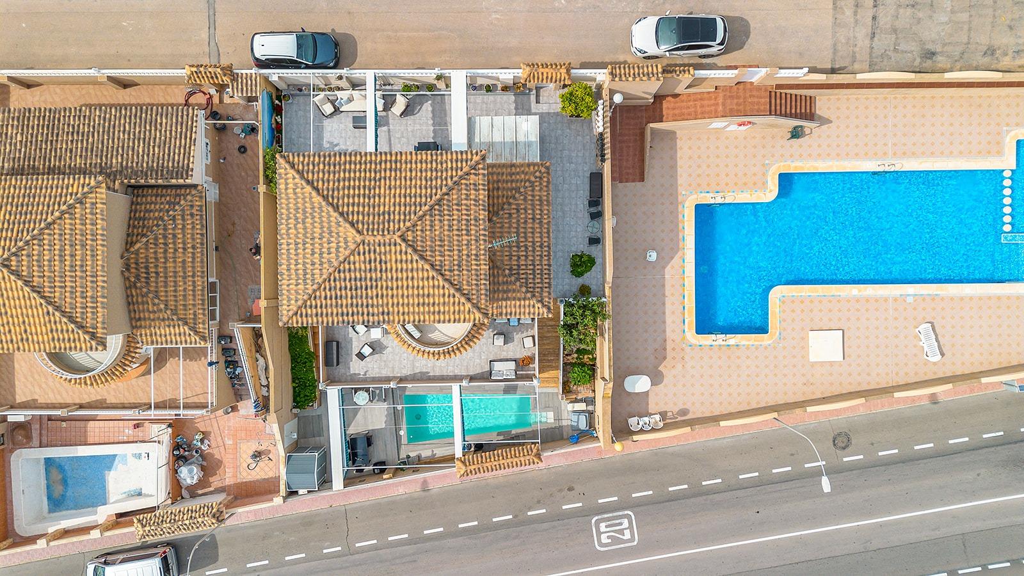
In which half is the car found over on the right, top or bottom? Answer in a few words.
top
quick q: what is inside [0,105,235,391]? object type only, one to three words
house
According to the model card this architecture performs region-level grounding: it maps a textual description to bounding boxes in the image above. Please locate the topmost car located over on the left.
[246,25,342,68]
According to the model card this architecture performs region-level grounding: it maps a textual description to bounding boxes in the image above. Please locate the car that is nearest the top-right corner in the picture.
[630,10,732,64]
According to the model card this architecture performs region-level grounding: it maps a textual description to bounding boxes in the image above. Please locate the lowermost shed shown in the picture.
[285,446,328,490]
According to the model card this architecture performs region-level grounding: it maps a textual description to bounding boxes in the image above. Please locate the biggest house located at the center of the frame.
[274,150,554,361]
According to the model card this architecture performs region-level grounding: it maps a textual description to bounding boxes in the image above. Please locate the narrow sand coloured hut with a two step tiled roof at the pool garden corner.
[606,64,734,106]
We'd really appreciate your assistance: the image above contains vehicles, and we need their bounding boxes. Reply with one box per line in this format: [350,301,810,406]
[246,25,342,68]
[630,10,732,64]
[79,544,180,576]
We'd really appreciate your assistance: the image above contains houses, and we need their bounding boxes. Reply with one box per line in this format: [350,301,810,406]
[0,105,235,391]
[274,150,554,361]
